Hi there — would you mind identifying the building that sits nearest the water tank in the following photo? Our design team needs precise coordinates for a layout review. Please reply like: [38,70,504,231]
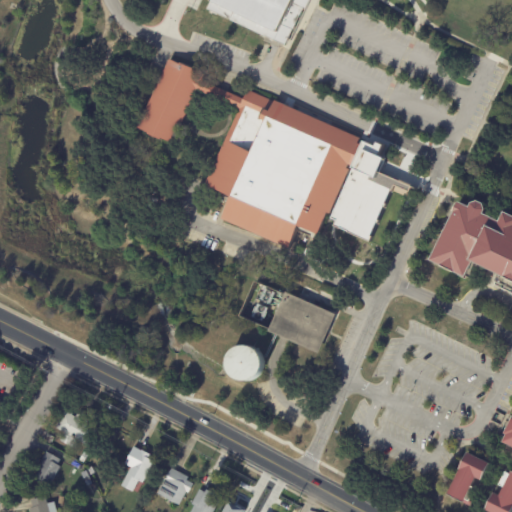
[268,292,338,352]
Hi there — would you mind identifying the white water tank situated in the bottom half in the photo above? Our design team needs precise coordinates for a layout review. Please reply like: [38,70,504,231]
[224,344,264,381]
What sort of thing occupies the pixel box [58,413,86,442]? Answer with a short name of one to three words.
house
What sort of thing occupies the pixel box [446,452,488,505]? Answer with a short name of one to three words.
house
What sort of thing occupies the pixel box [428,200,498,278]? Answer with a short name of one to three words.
building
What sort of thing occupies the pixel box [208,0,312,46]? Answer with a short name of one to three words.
building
